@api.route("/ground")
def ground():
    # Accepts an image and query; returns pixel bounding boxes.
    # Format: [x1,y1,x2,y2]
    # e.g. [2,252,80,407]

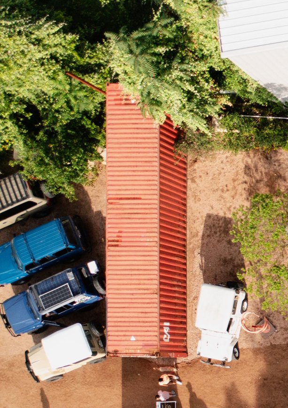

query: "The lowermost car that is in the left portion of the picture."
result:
[26,321,115,386]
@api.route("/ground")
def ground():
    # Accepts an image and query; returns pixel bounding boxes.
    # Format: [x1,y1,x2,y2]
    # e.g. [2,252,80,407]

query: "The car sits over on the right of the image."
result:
[193,278,248,374]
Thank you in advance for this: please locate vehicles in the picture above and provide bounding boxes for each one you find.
[0,169,75,240]
[193,278,248,374]
[0,213,104,284]
[1,261,107,336]
[26,321,115,386]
